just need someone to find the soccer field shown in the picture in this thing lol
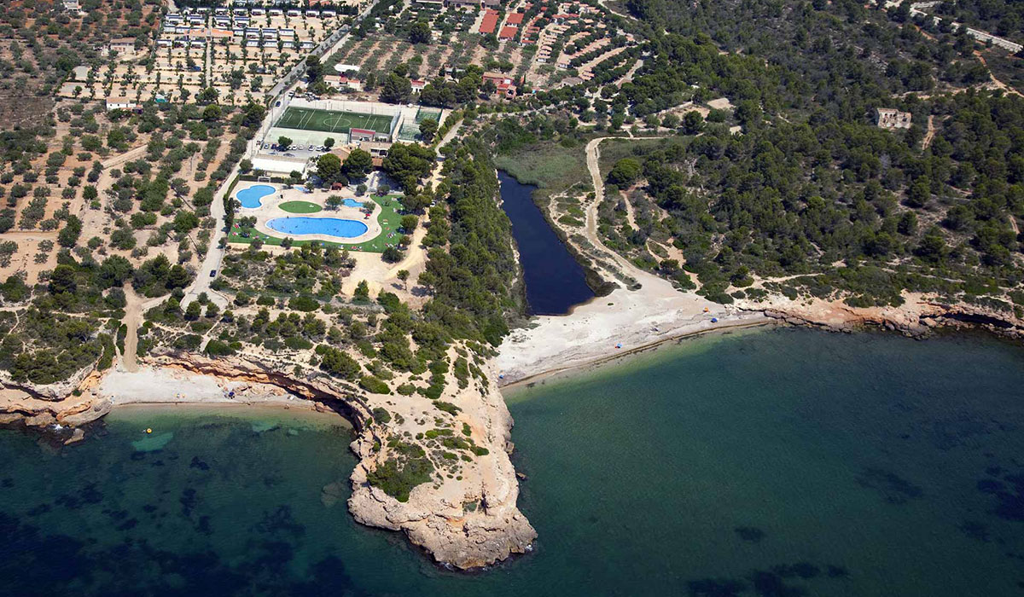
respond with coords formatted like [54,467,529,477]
[274,107,392,133]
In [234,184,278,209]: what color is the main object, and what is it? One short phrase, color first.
blue swimming pool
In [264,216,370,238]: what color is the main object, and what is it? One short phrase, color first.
blue swimming pool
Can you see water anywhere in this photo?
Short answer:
Yes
